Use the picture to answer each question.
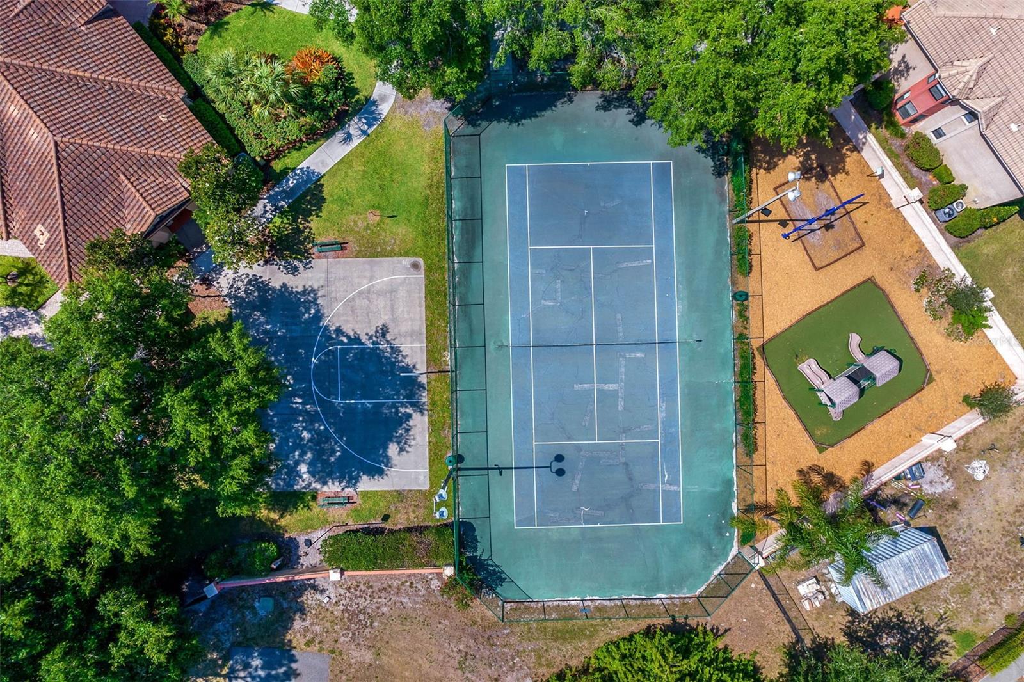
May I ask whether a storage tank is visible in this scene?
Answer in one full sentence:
No, the scene contains no storage tank.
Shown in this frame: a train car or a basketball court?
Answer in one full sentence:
Visible in the photo is a basketball court.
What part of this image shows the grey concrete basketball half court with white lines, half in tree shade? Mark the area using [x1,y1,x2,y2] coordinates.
[192,257,428,492]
